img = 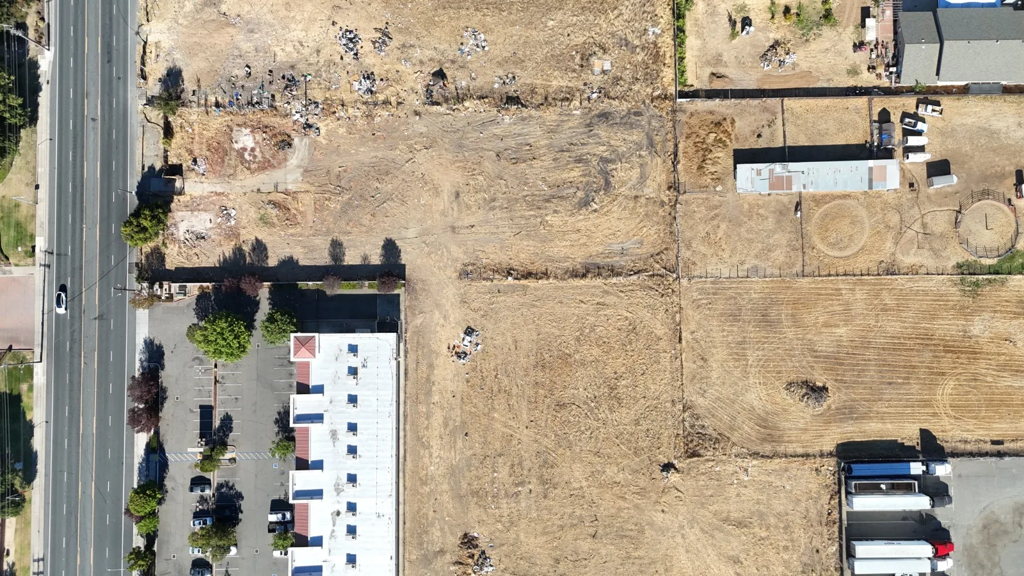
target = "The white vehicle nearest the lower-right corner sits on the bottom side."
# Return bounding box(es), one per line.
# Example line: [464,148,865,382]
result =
[925,554,948,572]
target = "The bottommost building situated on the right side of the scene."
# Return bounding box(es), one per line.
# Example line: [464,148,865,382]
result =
[734,159,899,194]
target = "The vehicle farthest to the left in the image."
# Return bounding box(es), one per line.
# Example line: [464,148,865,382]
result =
[55,291,68,314]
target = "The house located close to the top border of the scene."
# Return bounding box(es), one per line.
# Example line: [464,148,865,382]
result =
[894,8,1024,86]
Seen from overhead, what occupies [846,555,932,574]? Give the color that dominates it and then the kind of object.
white trailer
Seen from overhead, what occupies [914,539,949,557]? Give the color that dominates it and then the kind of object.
red vehicle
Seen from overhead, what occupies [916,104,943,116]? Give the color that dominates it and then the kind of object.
white vehicle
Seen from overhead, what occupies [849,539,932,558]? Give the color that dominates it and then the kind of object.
white trailer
